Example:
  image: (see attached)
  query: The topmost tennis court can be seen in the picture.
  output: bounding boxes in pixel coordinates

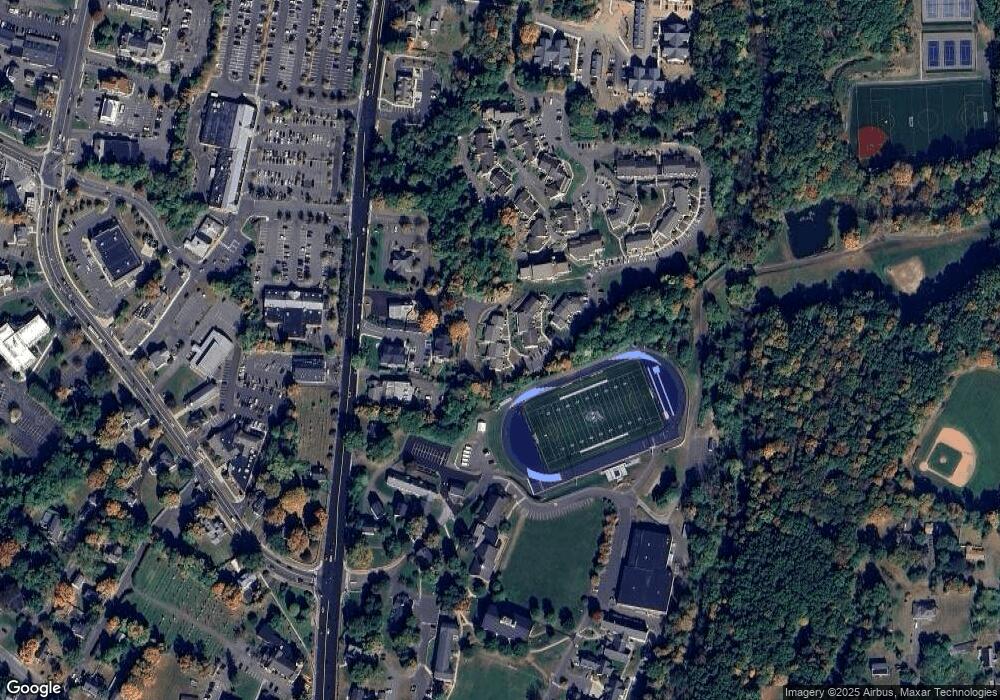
[922,0,974,23]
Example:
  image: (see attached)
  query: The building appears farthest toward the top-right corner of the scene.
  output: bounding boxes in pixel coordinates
[662,24,690,62]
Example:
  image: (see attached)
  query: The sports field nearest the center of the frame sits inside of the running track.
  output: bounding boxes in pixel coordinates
[523,360,663,471]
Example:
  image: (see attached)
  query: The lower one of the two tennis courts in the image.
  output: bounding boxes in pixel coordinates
[923,31,976,70]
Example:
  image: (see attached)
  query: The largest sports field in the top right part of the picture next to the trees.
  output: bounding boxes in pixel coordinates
[853,81,993,161]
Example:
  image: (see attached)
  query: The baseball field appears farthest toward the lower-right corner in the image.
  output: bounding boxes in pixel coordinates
[914,361,1000,497]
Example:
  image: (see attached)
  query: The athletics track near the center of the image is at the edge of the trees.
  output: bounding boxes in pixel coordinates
[502,347,687,493]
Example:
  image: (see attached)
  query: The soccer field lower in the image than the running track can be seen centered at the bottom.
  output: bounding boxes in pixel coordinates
[500,498,606,613]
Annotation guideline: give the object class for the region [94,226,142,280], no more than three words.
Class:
building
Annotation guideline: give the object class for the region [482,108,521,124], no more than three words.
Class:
house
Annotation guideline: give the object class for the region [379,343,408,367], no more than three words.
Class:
house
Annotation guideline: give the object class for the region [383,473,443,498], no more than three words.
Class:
building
